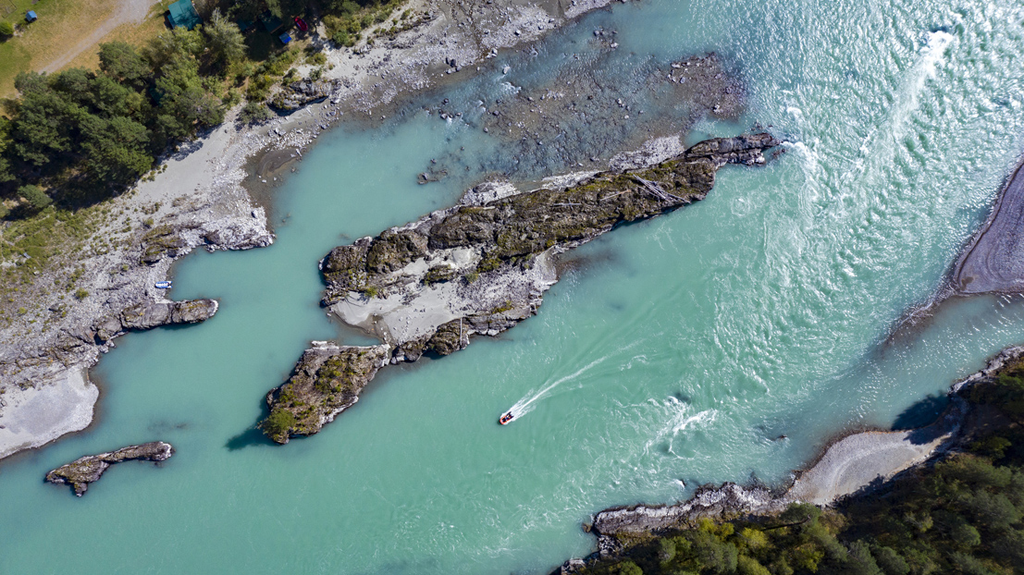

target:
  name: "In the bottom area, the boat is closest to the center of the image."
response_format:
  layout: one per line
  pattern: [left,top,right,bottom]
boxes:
[500,410,516,425]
